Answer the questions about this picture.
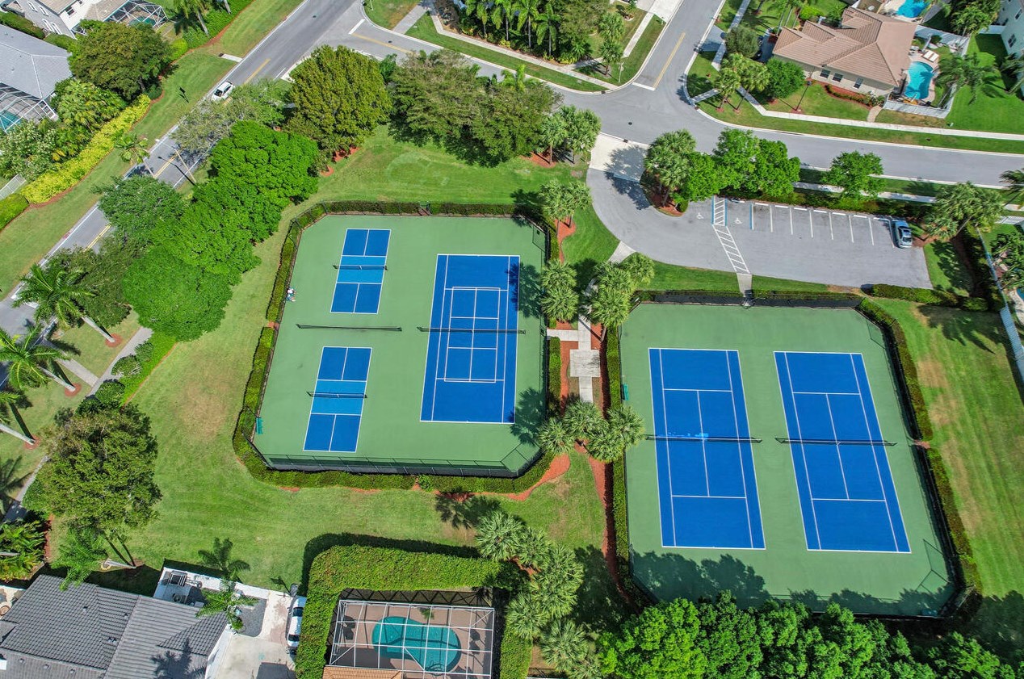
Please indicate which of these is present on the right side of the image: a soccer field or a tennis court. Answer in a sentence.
The feature located on the right side of the image is a tennis court.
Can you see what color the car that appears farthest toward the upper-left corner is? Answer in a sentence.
The color of the car that appears farthest toward the upper-left corner is white.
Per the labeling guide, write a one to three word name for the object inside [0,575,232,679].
house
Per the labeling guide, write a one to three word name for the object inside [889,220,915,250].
car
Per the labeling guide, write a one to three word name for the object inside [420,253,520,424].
tennis court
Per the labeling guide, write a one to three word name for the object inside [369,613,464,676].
swimming pool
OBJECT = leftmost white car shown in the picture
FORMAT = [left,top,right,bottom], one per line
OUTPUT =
[207,79,234,105]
